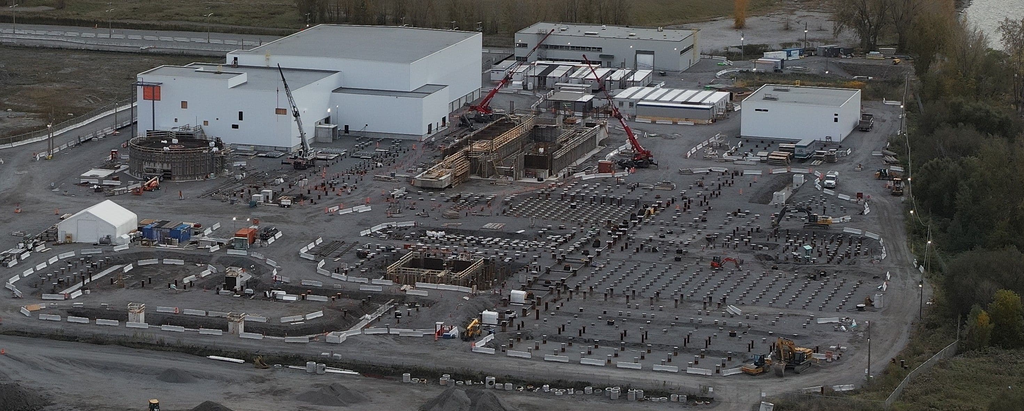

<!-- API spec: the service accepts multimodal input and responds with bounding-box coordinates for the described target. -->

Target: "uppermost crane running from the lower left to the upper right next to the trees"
[459,28,555,124]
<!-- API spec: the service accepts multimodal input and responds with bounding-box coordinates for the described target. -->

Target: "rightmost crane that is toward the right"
[581,53,664,171]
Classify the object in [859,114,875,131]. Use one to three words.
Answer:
vehicle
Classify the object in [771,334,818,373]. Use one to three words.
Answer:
work vehicle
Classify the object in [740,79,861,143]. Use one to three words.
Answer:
building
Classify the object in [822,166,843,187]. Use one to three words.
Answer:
truck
